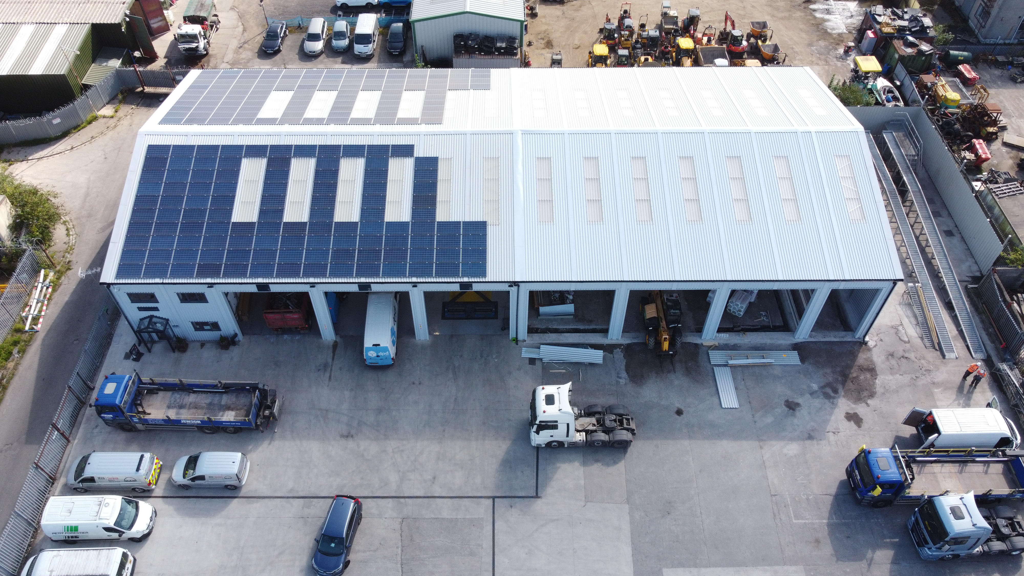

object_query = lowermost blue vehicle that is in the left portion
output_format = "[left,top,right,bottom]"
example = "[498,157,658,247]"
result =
[309,494,363,576]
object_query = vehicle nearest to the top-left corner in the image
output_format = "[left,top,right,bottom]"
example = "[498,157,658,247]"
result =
[171,0,224,54]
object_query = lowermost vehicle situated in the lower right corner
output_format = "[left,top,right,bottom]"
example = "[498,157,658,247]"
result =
[907,490,1024,559]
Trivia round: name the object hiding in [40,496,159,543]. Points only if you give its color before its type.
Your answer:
white van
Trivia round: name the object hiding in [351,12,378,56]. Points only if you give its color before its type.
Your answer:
white vehicle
